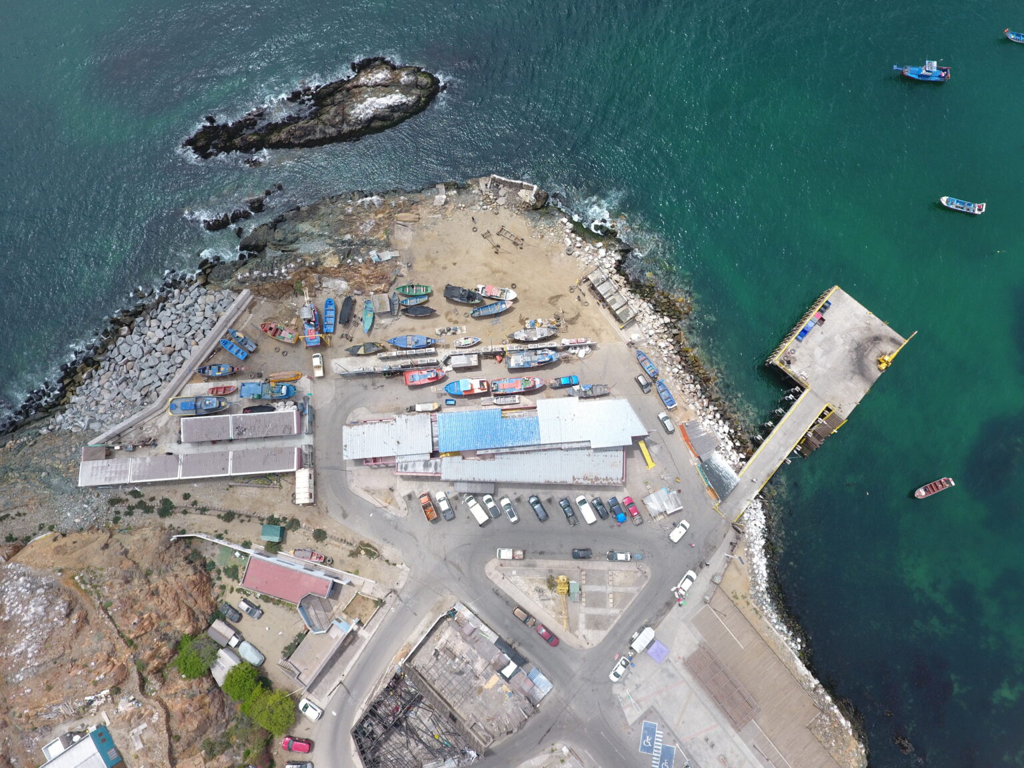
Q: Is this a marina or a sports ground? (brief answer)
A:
marina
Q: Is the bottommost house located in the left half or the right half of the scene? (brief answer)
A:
left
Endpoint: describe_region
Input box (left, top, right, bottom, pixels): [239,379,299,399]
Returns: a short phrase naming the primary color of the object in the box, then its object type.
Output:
blue boat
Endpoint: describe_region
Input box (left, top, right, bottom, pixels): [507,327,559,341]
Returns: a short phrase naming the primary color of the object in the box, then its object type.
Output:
white boat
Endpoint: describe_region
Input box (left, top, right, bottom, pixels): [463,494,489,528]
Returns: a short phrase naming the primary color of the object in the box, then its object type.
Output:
white truck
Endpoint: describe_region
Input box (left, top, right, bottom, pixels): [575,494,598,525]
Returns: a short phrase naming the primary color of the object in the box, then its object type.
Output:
white vehicle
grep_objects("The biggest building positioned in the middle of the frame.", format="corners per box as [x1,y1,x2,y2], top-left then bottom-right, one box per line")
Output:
[343,397,648,493]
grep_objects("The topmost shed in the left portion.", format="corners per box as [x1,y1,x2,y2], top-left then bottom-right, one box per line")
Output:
[371,293,391,315]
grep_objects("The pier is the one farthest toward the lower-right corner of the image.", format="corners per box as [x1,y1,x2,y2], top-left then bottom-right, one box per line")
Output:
[713,285,905,522]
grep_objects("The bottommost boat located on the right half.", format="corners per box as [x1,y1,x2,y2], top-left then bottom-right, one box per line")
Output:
[914,476,957,498]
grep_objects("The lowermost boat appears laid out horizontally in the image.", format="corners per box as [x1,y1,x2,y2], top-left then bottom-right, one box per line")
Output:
[288,550,327,563]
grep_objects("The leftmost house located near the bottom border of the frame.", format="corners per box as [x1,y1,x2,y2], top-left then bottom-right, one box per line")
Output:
[42,716,138,768]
